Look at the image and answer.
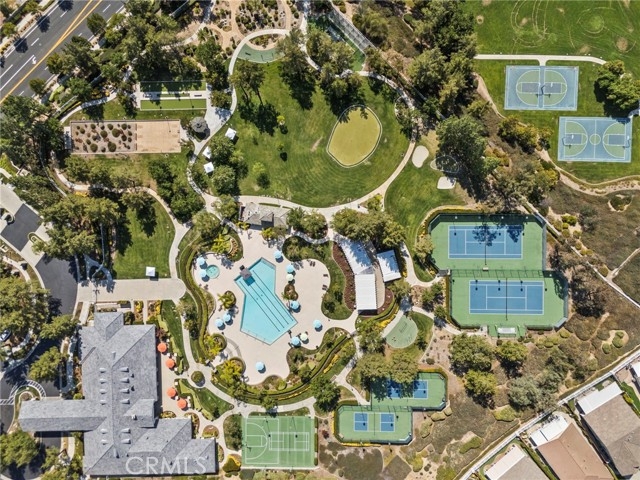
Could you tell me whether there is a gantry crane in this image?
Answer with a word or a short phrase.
No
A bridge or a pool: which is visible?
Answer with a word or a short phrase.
pool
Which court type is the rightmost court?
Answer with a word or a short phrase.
basketball court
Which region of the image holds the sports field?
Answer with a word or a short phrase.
top right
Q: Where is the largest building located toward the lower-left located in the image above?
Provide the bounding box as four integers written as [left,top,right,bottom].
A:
[19,312,216,476]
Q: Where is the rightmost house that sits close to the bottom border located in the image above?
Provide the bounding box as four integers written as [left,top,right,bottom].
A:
[574,381,640,479]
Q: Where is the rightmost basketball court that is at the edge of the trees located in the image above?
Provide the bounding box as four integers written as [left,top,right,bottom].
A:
[556,116,635,164]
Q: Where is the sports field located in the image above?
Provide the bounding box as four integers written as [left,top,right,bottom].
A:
[449,0,640,183]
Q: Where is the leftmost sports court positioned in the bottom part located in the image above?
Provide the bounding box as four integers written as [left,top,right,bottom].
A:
[241,416,314,468]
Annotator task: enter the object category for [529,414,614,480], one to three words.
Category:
house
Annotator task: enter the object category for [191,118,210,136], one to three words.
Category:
gazebo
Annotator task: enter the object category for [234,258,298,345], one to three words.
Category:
swimming pool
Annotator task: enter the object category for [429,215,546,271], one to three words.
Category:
tennis court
